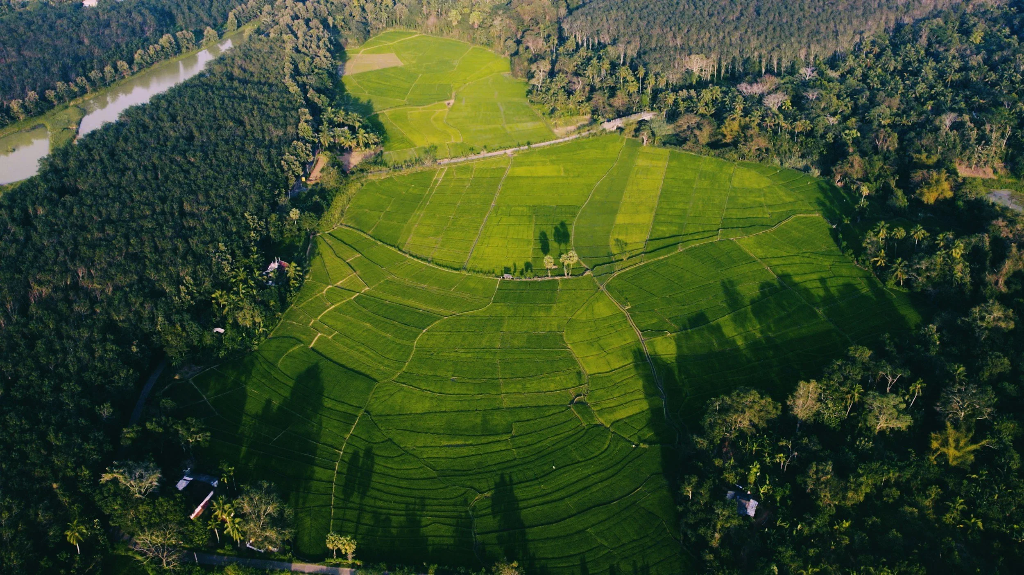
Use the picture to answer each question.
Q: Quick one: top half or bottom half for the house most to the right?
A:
bottom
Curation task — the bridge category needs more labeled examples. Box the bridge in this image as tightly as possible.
[588,108,672,133]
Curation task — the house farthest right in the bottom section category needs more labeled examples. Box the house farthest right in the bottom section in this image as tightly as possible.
[727,492,758,526]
